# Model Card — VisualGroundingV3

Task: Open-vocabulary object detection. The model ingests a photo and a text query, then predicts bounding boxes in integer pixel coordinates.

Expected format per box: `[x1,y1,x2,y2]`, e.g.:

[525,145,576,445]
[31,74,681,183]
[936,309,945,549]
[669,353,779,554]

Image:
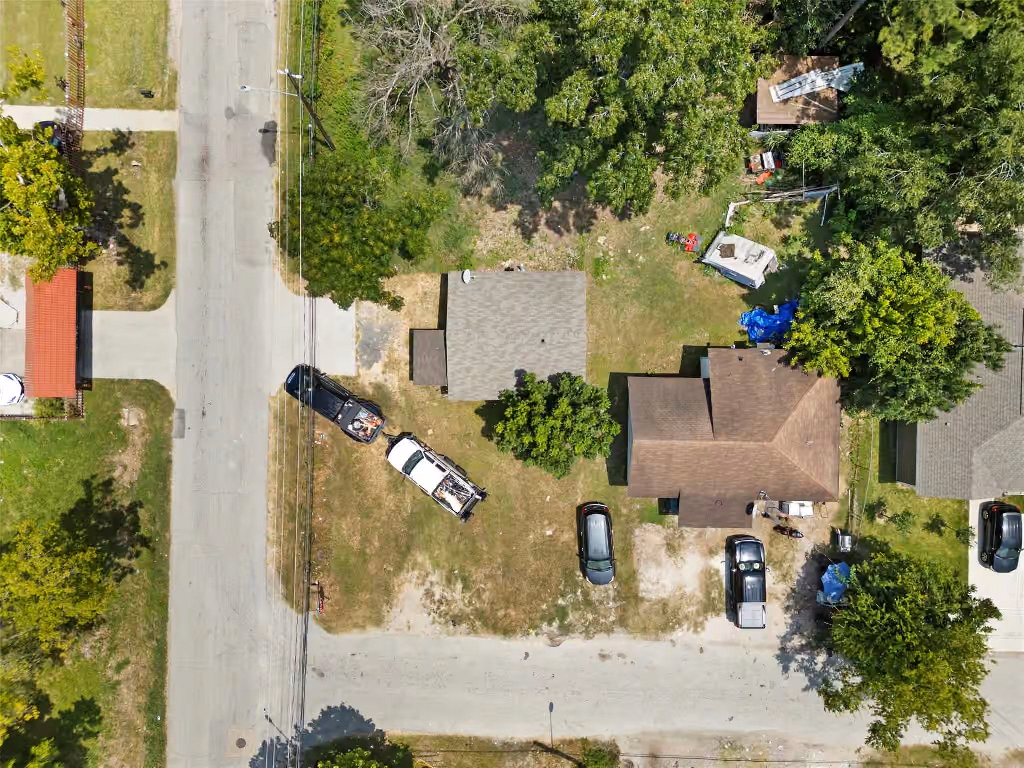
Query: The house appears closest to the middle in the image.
[410,272,589,400]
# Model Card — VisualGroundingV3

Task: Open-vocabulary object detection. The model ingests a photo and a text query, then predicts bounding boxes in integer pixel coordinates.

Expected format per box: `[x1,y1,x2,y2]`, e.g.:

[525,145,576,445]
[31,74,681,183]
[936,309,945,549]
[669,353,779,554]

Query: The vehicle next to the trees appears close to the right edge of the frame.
[981,500,1024,572]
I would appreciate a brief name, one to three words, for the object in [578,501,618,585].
car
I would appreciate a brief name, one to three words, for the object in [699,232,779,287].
vehicle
